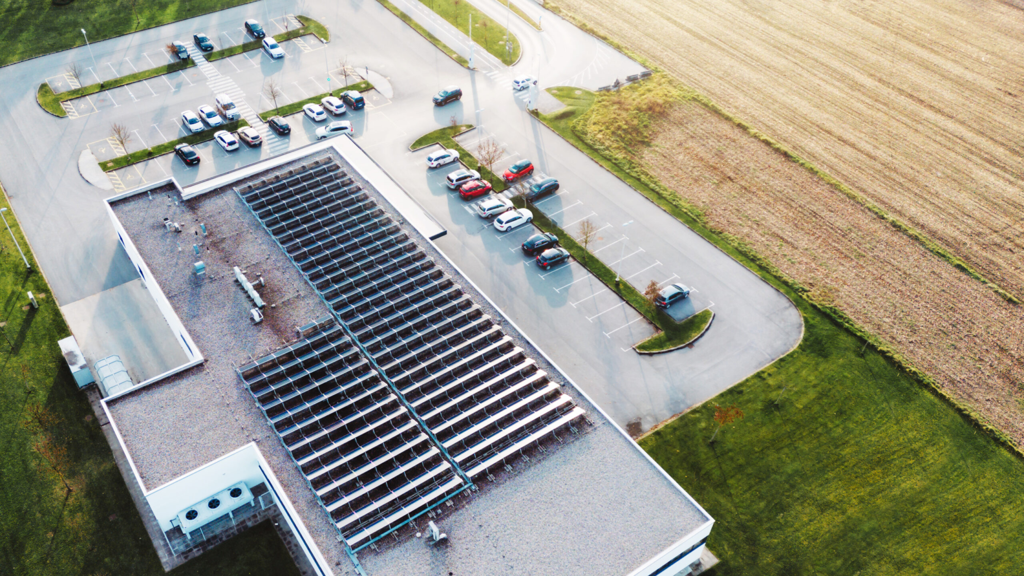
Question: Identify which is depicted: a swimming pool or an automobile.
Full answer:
Visible in the photo is an automobile.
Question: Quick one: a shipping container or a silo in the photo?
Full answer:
It is a shipping container that can be seen here.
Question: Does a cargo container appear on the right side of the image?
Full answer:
No, the scene shows no cargo container on the right side of the image.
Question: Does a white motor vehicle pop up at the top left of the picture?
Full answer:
Yes, you'll find a white motor vehicle at the top left of the picture.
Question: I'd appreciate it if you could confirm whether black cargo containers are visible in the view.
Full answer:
No, the photo shows no black cargo container.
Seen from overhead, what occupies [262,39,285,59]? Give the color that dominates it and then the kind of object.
white car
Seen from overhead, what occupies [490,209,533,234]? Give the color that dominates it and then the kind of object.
white car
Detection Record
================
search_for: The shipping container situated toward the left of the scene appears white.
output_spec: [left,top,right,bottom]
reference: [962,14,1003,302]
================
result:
[56,334,97,392]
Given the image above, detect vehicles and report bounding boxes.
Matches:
[341,91,367,111]
[175,144,201,167]
[533,247,570,271]
[197,103,222,125]
[422,149,460,170]
[168,40,189,60]
[519,231,558,257]
[457,180,493,202]
[431,84,463,106]
[262,39,285,59]
[443,169,481,191]
[475,198,514,221]
[243,20,264,38]
[304,104,329,124]
[490,209,533,234]
[652,283,691,310]
[524,175,562,201]
[314,118,354,140]
[270,116,295,136]
[322,96,349,117]
[179,109,203,131]
[215,131,241,154]
[512,75,538,92]
[194,34,216,52]
[501,160,535,181]
[236,126,262,148]
[214,94,240,120]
